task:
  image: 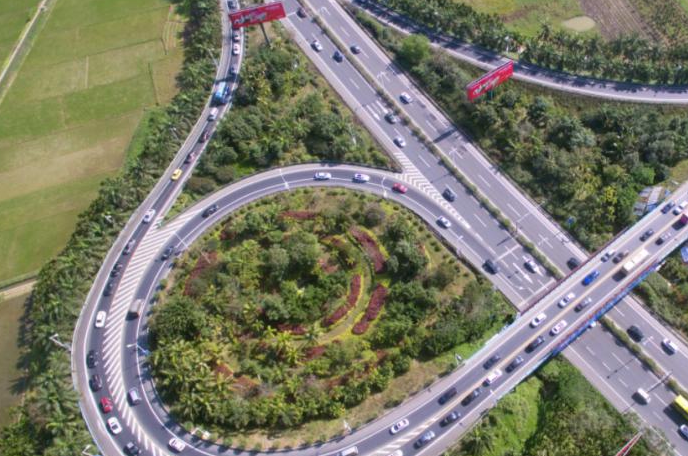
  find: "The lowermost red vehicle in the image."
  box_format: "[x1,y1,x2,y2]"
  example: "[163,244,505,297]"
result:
[99,396,113,414]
